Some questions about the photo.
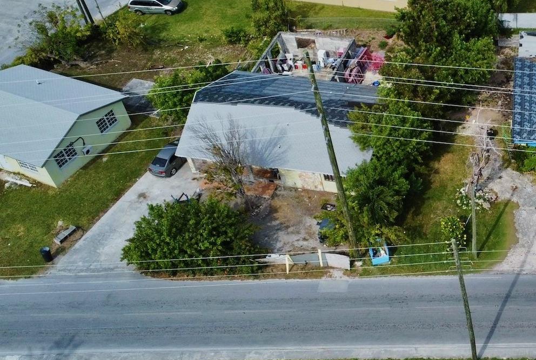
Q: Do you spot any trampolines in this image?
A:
No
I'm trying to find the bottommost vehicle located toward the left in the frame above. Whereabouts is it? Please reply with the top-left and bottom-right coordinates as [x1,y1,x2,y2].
[142,134,184,178]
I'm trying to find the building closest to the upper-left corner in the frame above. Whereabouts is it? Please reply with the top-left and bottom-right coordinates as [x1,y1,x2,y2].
[0,68,132,187]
